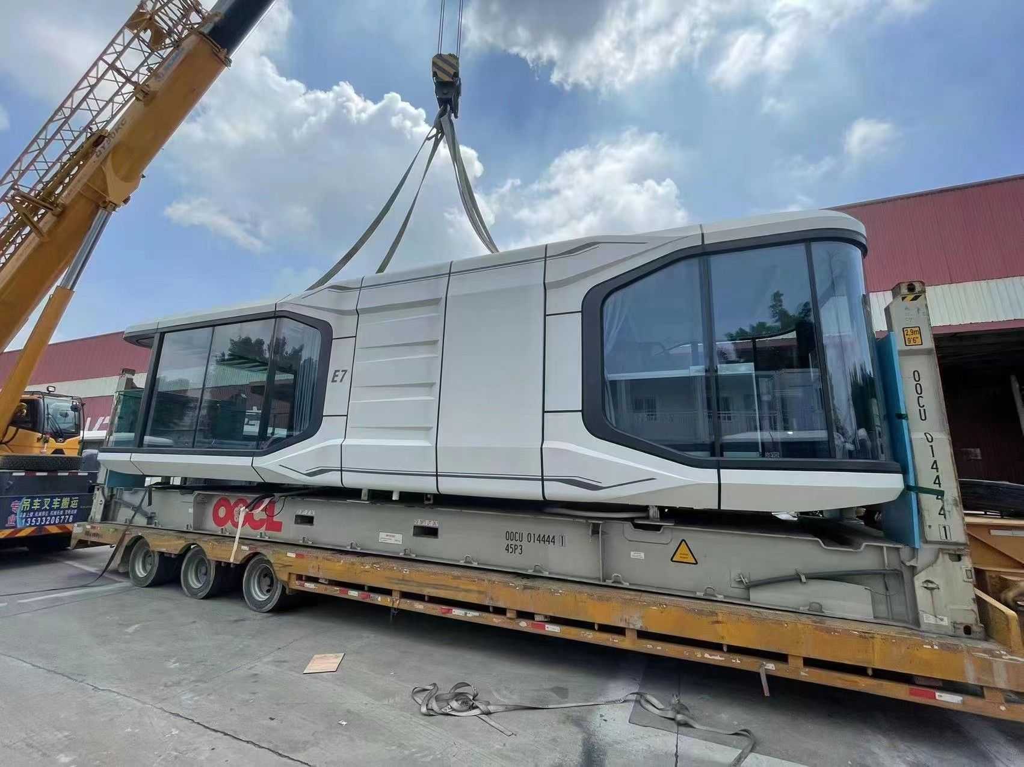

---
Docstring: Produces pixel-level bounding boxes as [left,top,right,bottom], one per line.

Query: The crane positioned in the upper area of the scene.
[0,0,278,554]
